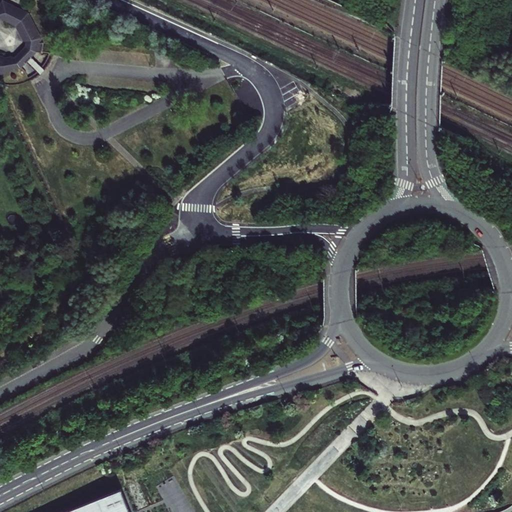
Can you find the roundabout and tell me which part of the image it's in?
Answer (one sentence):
The roundabout is in the right part of the image.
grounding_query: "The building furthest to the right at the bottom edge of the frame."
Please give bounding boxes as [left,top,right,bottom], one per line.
[157,476,196,512]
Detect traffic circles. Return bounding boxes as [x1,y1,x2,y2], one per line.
[328,194,512,384]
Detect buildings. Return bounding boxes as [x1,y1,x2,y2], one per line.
[157,476,196,512]
[0,0,44,74]
[74,492,128,512]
